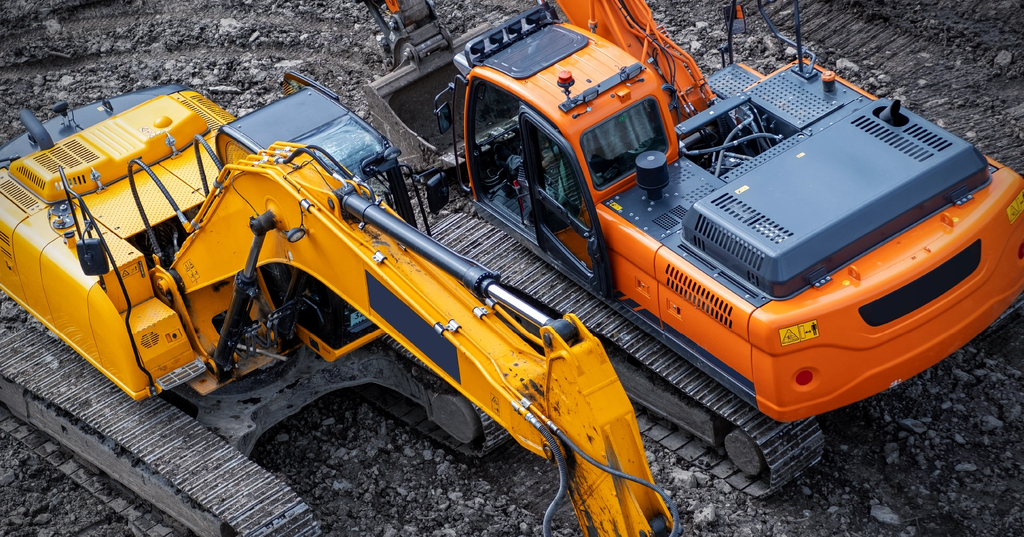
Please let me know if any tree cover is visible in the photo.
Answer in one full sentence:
No, there's no tree cover in this view.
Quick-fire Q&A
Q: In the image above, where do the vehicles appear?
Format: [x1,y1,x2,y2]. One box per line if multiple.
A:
[364,0,1020,497]
[0,72,684,537]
